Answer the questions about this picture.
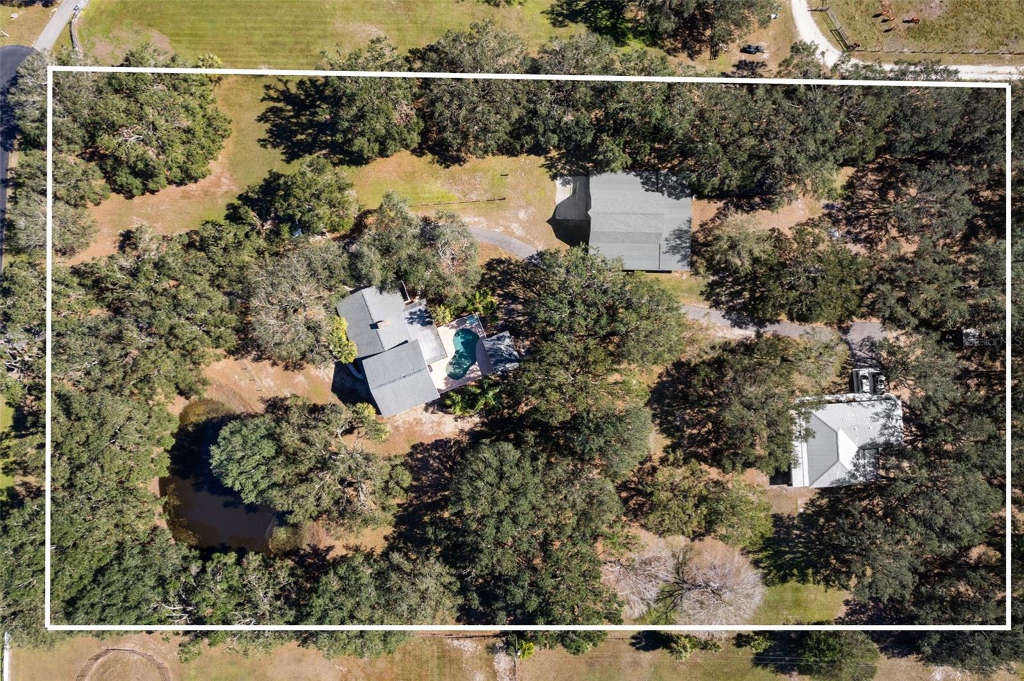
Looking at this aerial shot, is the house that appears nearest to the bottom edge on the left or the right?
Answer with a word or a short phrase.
right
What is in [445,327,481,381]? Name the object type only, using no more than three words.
swimming pool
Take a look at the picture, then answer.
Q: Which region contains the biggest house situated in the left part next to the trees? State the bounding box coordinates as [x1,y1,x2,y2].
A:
[337,281,447,419]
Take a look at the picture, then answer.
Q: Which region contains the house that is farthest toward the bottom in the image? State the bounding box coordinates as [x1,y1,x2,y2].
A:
[789,400,896,487]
